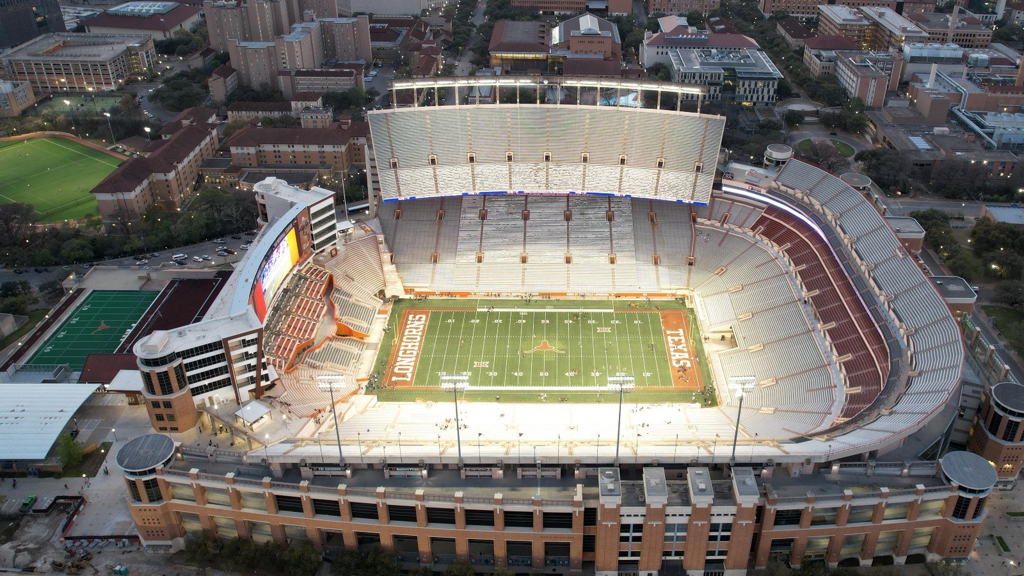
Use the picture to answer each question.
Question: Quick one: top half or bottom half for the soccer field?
top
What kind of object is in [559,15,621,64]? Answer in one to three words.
building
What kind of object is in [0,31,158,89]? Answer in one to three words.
building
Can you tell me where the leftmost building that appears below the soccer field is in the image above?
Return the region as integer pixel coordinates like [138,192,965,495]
[0,386,103,479]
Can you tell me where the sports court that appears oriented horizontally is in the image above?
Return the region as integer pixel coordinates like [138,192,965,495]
[31,95,123,113]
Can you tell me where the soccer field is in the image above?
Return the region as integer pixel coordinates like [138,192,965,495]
[0,134,122,222]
